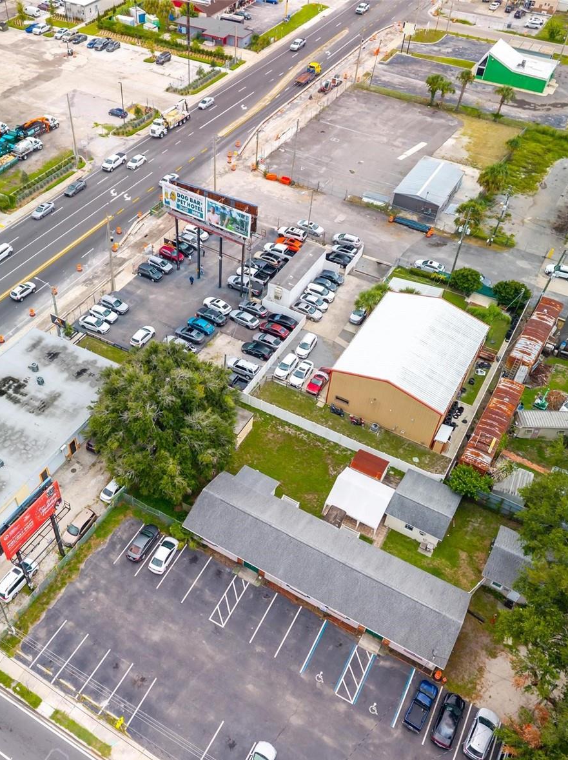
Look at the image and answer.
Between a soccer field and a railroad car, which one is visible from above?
railroad car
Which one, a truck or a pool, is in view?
truck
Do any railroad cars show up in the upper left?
No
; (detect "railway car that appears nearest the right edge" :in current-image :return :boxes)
[502,302,565,386]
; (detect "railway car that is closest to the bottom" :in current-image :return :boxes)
[456,384,524,490]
